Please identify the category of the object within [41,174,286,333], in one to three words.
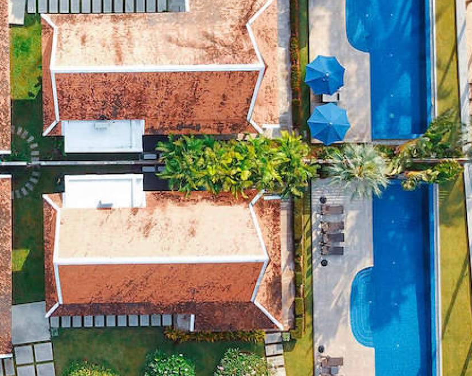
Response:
house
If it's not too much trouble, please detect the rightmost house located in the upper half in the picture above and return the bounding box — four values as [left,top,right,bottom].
[40,0,278,153]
